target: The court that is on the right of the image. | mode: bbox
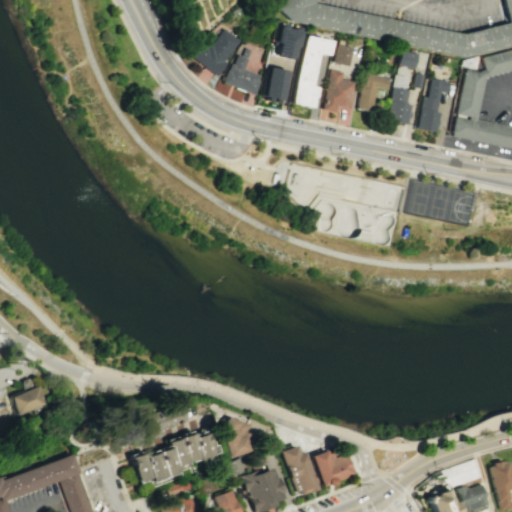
[404,178,475,224]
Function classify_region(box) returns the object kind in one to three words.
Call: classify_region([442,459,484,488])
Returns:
building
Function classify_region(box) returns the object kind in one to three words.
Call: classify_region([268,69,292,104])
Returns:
house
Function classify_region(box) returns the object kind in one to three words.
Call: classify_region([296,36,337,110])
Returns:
building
